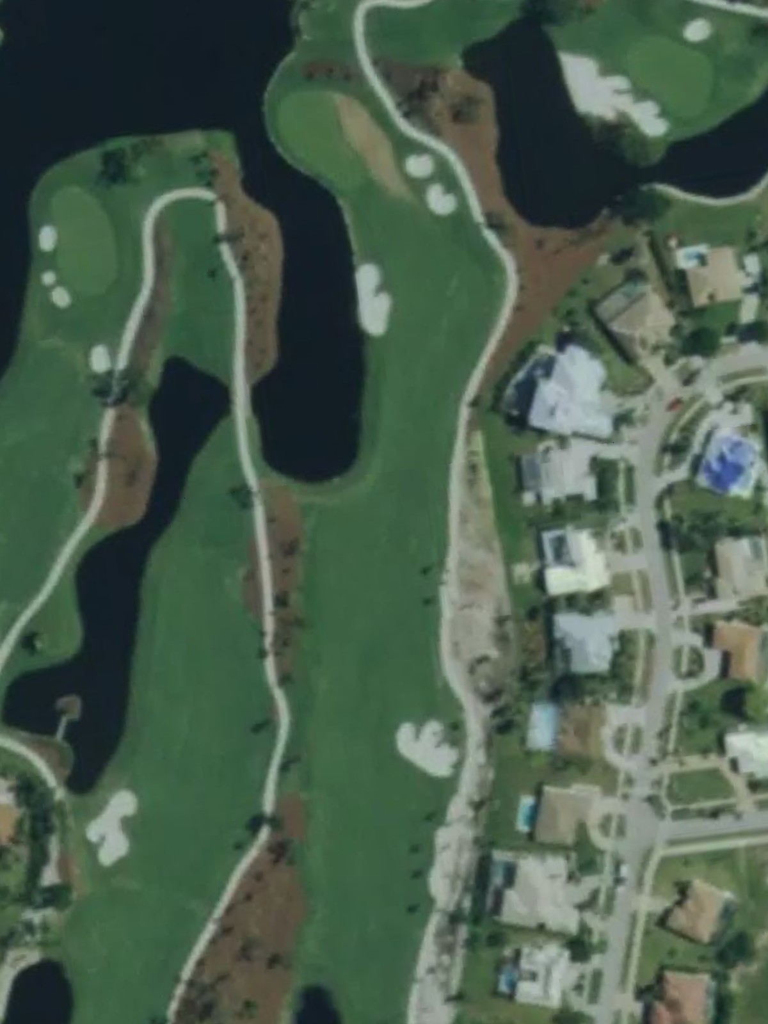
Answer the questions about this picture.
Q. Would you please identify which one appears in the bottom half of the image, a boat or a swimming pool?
swimming pool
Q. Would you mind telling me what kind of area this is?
golf course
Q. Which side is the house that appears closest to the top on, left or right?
right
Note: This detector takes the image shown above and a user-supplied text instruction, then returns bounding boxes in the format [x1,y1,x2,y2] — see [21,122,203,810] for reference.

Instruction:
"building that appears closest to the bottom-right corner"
[656,973,710,1024]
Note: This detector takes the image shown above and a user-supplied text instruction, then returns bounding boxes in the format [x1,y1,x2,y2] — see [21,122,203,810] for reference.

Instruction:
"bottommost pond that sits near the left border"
[4,960,72,1024]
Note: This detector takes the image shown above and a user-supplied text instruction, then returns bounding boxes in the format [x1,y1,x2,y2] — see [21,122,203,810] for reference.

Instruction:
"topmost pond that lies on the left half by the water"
[3,357,229,793]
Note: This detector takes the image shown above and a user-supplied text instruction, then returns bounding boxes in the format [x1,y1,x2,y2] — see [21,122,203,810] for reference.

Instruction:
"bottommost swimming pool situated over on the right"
[498,965,519,993]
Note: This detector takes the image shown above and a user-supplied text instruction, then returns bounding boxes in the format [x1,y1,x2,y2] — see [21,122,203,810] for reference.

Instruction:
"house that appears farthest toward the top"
[687,244,744,307]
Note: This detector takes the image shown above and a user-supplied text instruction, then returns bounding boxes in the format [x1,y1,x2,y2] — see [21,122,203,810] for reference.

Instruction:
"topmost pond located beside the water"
[463,20,768,227]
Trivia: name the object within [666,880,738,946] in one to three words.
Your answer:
house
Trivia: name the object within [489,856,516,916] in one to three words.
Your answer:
swimming pool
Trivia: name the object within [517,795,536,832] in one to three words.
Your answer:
swimming pool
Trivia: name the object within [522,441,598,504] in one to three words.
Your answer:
house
